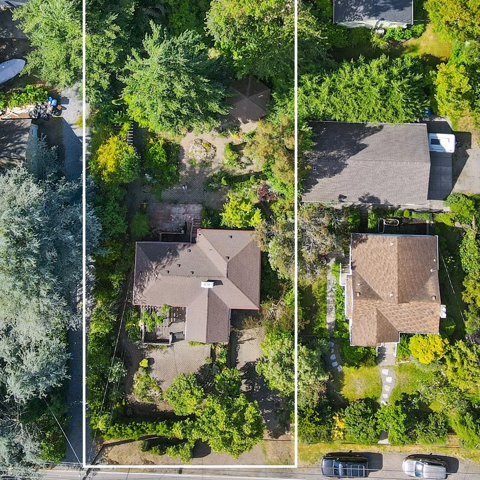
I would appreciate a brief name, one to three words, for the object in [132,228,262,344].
house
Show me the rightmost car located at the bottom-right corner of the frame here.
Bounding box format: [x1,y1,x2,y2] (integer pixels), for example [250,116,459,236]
[401,455,448,480]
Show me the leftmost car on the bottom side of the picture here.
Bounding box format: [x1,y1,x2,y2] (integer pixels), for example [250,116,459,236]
[320,454,369,480]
